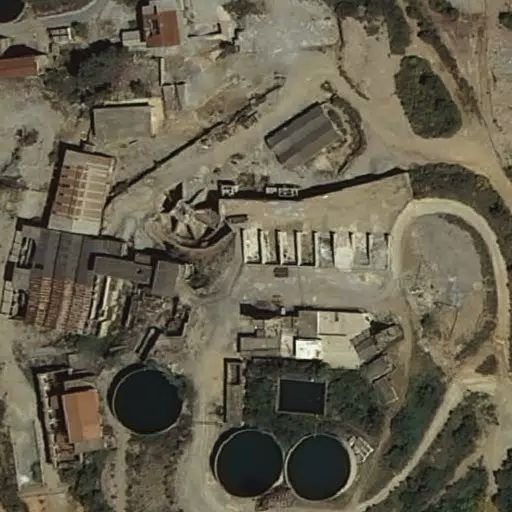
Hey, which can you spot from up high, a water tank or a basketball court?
water tank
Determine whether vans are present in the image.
No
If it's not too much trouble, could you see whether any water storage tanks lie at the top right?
No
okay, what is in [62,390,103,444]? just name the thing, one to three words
building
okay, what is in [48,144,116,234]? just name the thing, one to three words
building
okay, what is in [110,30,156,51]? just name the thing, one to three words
shed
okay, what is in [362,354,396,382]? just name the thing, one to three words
shed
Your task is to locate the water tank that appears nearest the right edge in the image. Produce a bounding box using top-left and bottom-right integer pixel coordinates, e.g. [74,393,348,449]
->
[284,433,357,502]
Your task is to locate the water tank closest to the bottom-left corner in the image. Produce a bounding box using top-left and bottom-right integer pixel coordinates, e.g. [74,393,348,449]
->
[113,366,183,436]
